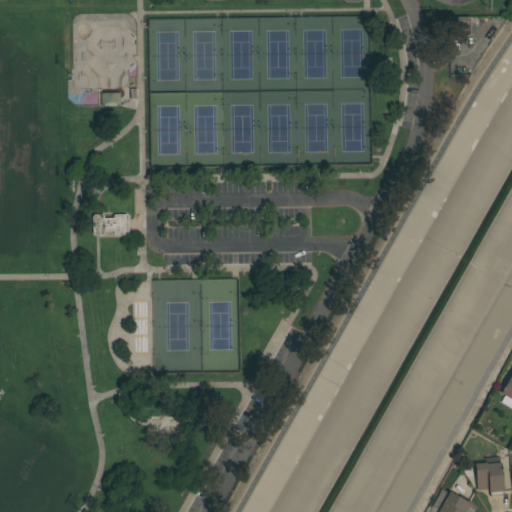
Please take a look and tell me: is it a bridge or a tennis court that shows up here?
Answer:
tennis court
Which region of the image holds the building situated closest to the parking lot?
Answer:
left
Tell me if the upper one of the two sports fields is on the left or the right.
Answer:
left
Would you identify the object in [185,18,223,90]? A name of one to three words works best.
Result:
tennis court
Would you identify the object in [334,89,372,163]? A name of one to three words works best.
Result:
tennis court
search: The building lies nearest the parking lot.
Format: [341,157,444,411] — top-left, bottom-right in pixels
[93,212,130,236]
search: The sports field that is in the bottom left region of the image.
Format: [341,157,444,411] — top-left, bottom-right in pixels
[0,412,92,512]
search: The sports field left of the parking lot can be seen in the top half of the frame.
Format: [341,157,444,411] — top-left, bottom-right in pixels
[0,12,66,271]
